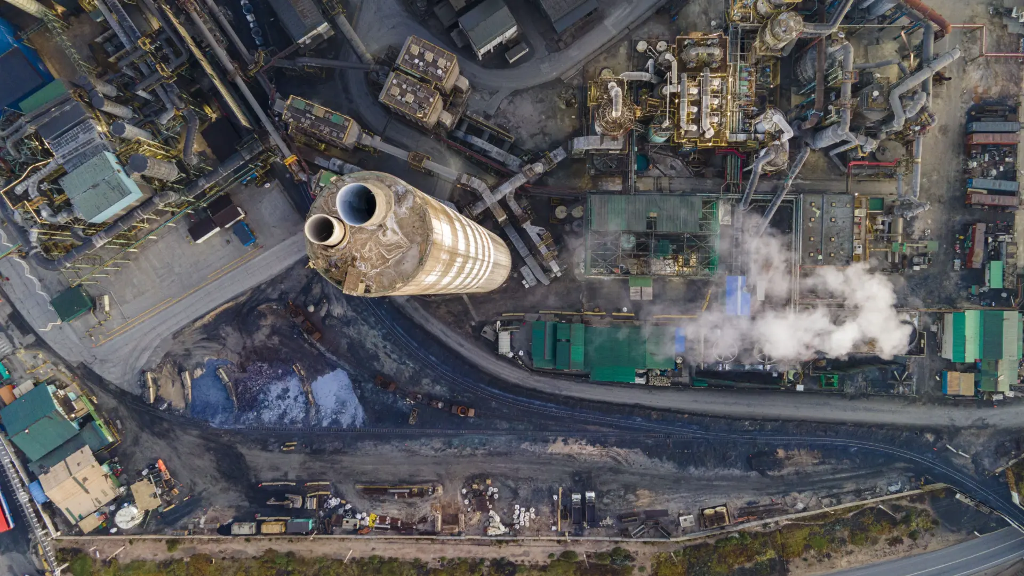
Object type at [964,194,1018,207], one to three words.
vehicle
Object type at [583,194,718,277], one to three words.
building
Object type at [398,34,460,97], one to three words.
house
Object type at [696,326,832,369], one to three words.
cooling tower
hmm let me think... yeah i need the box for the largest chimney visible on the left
[302,169,511,299]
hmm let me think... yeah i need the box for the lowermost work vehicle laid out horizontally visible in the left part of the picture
[269,496,301,509]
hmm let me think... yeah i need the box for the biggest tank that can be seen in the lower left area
[113,499,148,529]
